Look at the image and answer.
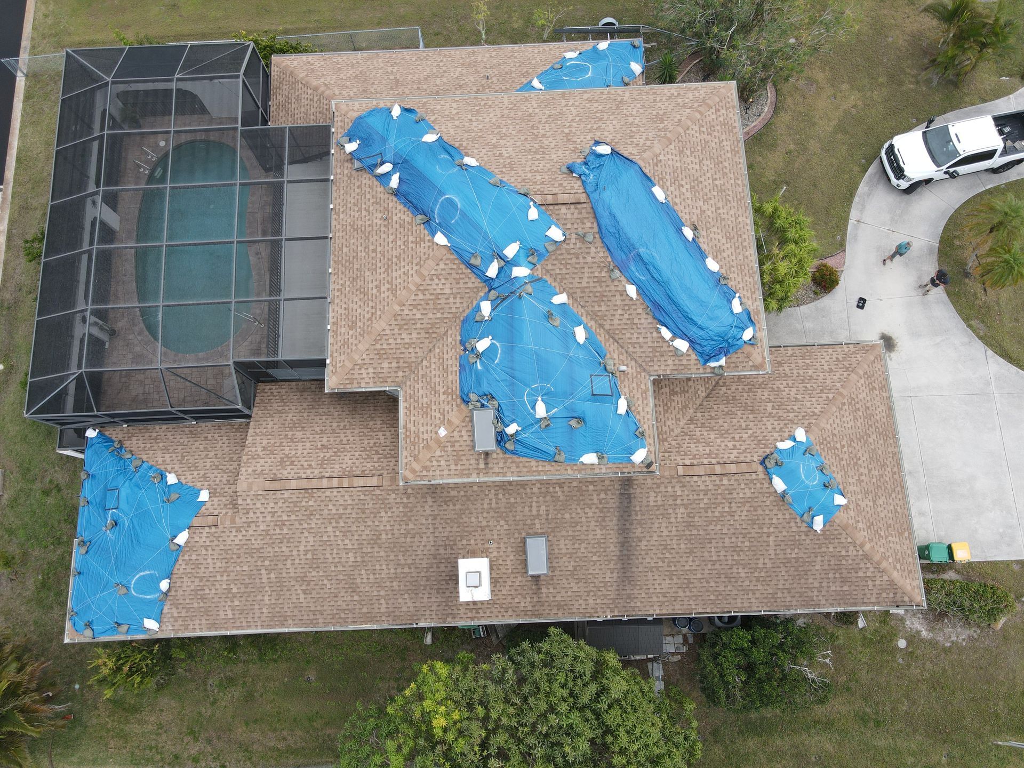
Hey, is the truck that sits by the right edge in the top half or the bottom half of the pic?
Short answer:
top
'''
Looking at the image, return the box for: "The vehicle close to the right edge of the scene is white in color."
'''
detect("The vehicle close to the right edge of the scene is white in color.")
[879,108,1024,196]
